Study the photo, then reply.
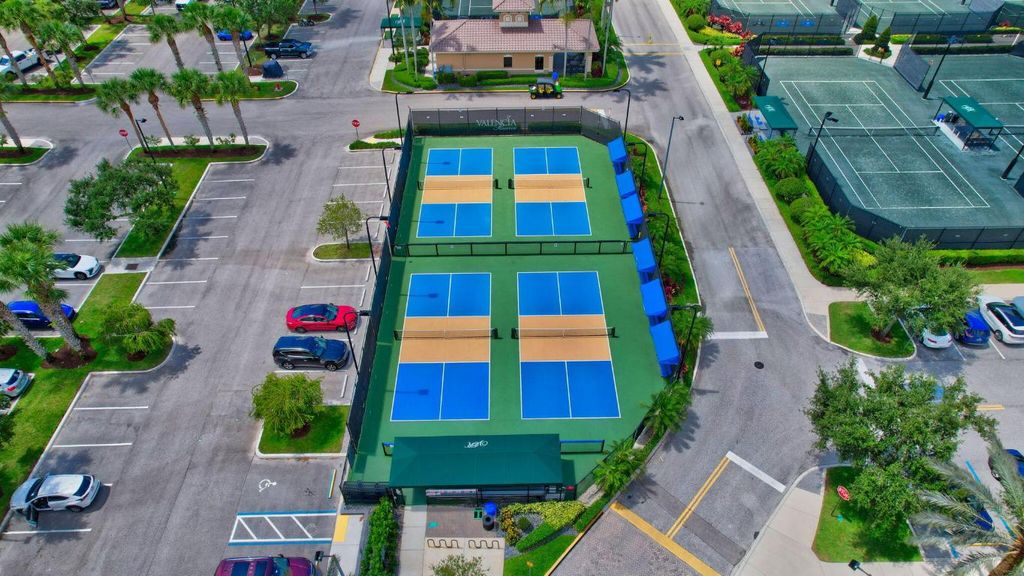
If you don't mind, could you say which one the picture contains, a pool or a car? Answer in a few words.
car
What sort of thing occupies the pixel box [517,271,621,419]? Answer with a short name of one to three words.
sports court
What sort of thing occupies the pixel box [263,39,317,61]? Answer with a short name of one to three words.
truck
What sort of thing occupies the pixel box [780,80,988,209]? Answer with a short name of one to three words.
tennis court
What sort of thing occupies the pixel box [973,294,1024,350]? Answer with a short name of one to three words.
car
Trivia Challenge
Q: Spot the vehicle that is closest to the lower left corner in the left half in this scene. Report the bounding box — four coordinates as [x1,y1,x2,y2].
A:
[7,472,107,531]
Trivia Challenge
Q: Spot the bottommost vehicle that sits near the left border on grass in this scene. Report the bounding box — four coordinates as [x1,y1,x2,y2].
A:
[0,369,44,403]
